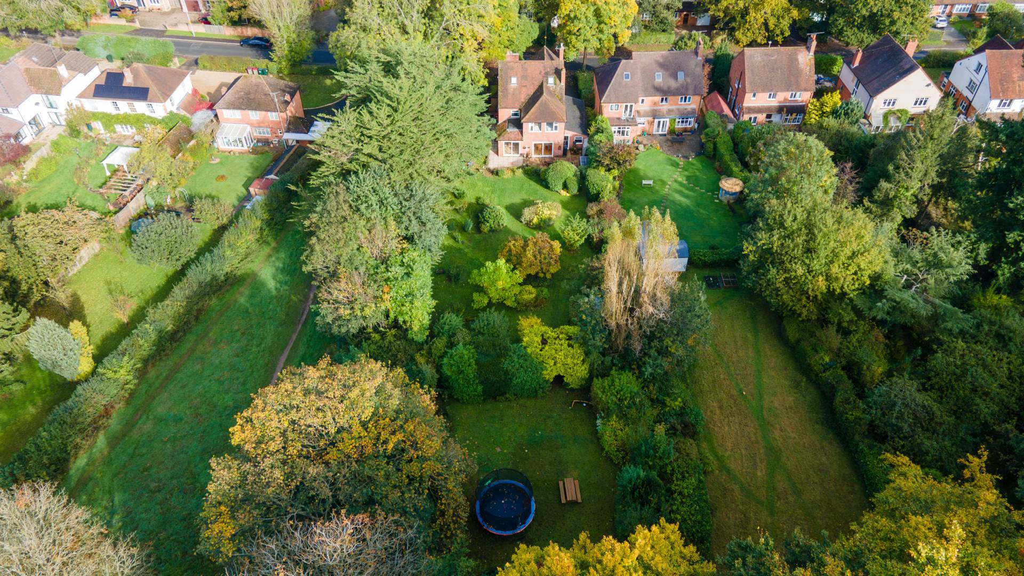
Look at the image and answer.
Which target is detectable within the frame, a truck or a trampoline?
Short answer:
trampoline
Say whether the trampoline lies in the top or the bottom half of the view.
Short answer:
bottom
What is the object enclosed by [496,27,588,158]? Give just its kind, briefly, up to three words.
house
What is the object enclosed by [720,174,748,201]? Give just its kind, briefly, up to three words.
building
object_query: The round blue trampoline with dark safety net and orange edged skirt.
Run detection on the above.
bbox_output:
[474,471,536,549]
